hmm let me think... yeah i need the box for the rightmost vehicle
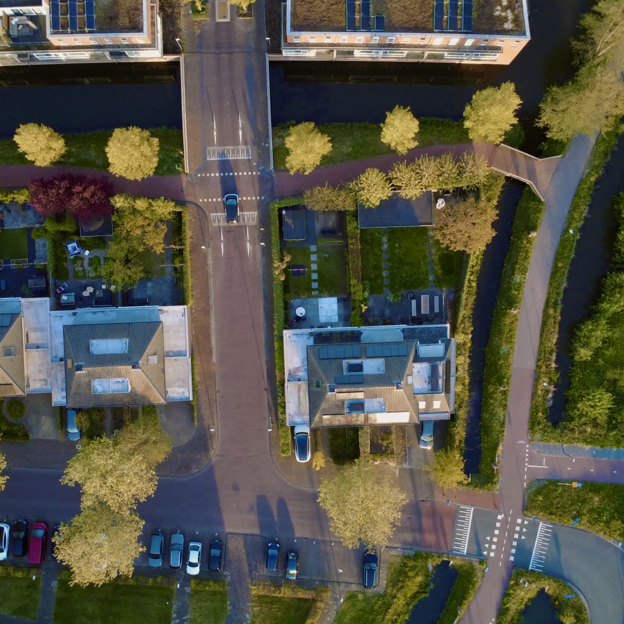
[417,421,435,452]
